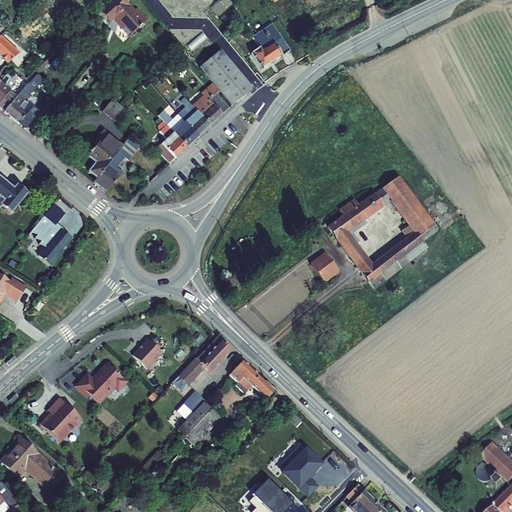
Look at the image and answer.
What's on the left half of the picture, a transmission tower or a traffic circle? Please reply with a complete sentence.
Looking on the left half of the picture, you will find a traffic circle.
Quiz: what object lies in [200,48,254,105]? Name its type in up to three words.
building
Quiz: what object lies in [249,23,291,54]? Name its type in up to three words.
house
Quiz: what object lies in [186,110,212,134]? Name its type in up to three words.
house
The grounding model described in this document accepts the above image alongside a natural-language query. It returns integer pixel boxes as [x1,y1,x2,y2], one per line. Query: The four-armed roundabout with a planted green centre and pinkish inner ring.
[84,167,242,330]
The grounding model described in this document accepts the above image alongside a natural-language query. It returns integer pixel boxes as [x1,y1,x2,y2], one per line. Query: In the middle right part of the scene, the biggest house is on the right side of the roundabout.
[326,176,439,286]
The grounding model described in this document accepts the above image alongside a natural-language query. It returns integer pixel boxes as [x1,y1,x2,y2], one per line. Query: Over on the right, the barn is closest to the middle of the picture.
[309,251,340,282]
